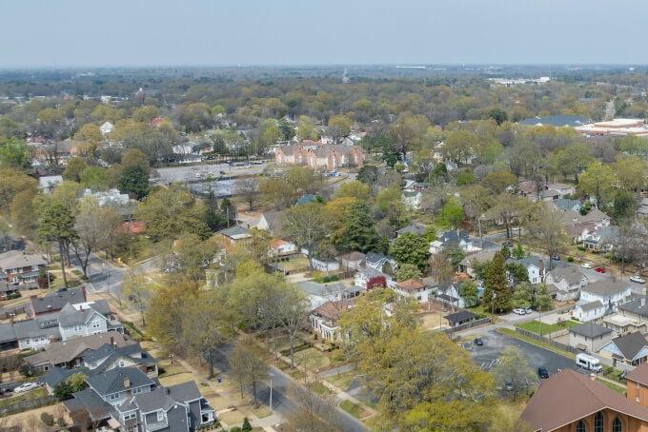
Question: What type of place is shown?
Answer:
residential area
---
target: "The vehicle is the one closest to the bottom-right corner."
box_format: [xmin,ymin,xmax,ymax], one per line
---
[574,354,600,369]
